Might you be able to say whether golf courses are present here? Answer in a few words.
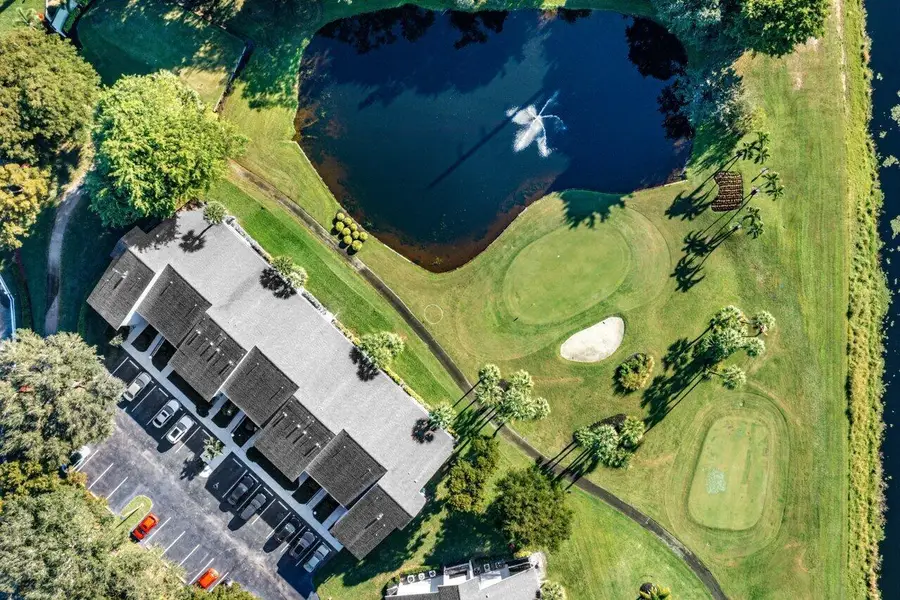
Yes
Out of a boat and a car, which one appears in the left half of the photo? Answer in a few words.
car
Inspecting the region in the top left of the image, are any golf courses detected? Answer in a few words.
No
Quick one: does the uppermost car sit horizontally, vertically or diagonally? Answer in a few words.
diagonally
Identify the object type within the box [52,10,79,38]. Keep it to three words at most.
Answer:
shed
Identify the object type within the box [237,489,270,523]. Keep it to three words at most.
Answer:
car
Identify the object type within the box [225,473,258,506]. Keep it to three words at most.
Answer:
car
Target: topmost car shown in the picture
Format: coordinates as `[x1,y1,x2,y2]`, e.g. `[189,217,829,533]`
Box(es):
[120,371,154,403]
